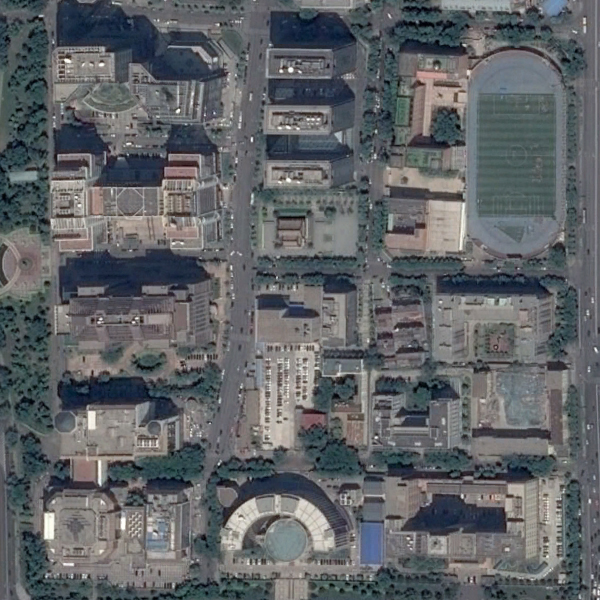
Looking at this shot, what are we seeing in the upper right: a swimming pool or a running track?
running track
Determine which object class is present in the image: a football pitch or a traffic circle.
football pitch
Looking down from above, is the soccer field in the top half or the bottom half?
top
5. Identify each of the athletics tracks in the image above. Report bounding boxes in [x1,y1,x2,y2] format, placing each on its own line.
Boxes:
[468,48,565,257]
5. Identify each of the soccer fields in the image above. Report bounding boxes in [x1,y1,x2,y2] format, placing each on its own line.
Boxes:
[477,94,554,216]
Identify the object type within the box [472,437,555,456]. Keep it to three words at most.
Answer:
shed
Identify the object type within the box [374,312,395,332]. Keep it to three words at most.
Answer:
house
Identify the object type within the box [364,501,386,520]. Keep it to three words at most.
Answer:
building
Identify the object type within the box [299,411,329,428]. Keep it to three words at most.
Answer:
house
